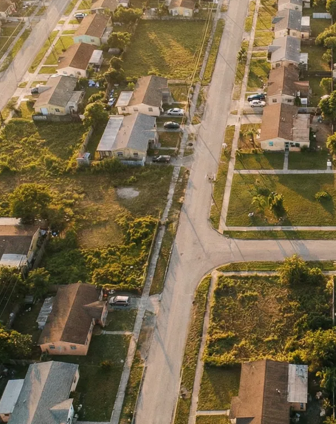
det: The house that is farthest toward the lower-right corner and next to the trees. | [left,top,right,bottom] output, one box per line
[230,360,310,424]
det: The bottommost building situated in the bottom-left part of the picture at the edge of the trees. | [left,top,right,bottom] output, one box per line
[0,361,82,424]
